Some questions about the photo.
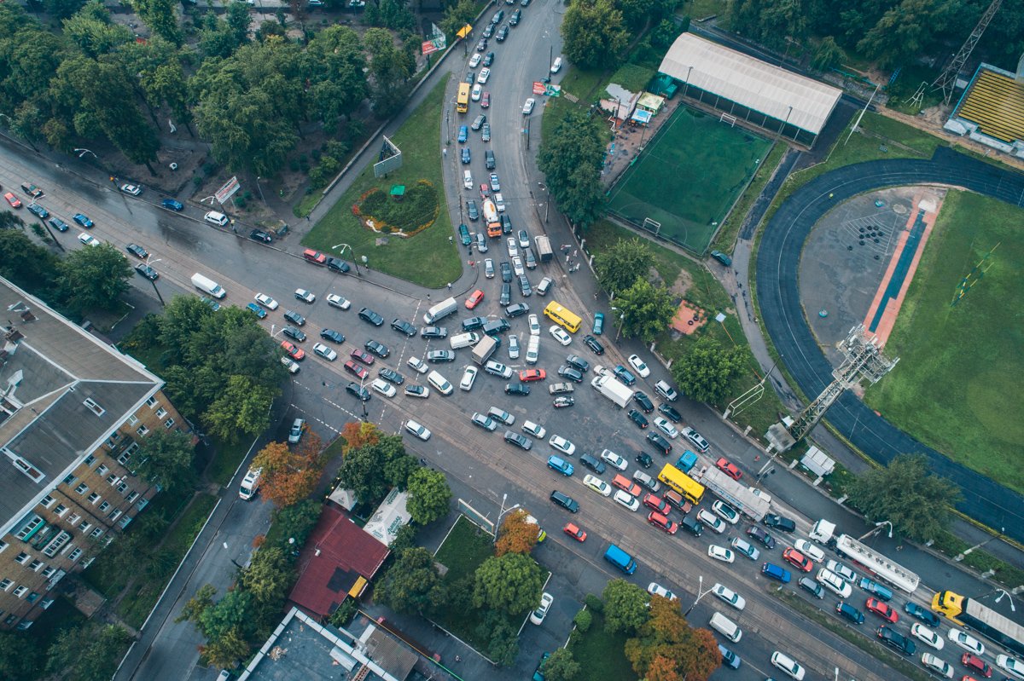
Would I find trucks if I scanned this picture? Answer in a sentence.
Yes, looking at the shot, I can spot a truck.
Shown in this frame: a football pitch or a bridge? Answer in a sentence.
I can see a football pitch in this picture.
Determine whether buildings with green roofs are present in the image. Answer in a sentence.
Yes, looking at the shot, I can spot a building with a green roof.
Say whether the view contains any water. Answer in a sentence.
No, the scene doesn't show any water.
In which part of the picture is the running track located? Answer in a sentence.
The running track appears toward the right of the photo.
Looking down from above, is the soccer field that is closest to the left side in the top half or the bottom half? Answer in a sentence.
Seen from above, the soccer field that is closest to the left side lies in the top half of the view.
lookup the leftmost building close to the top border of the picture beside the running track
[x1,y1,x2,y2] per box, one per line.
[655,34,844,150]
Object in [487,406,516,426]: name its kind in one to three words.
car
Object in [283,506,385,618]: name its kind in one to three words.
building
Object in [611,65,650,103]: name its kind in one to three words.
house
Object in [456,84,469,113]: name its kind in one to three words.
vehicle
